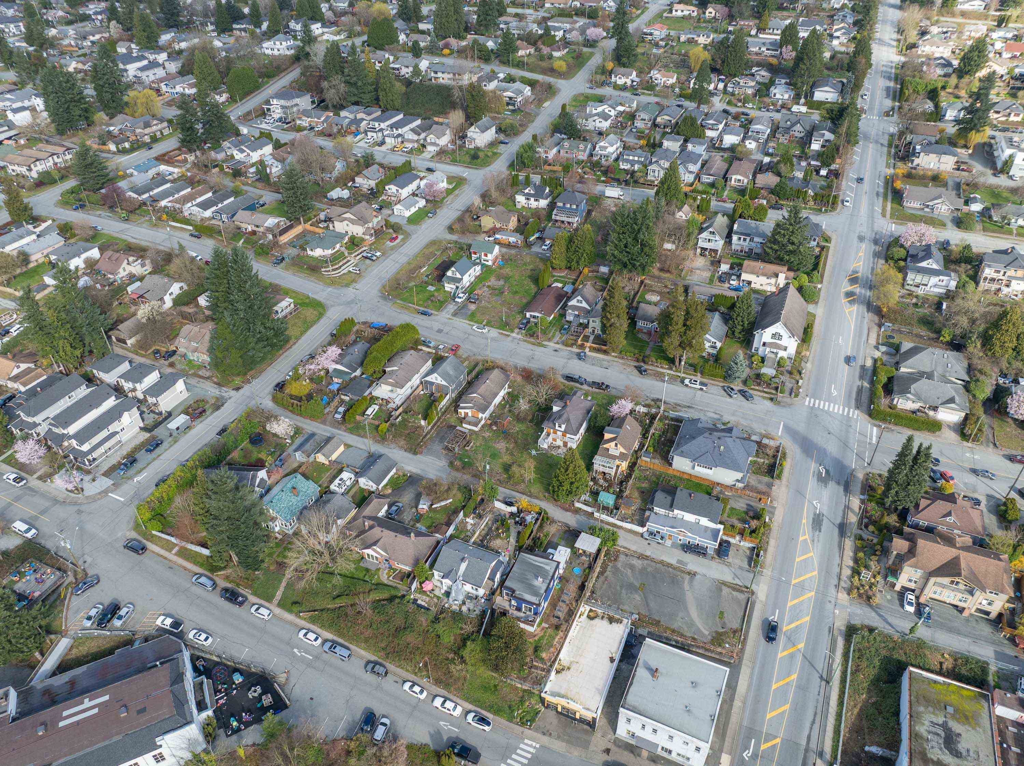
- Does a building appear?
Yes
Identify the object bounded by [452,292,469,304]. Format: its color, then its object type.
white vehicle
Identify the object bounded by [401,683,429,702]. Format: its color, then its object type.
white car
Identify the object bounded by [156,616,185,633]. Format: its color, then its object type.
white vehicle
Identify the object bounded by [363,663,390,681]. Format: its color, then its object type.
gray car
